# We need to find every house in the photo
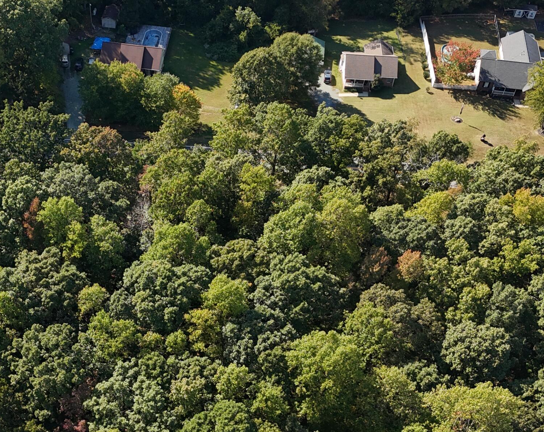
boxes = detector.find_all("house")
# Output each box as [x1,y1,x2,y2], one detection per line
[473,30,544,104]
[337,43,398,93]
[97,40,169,79]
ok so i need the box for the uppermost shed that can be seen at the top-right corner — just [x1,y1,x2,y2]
[503,4,538,19]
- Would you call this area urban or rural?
rural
